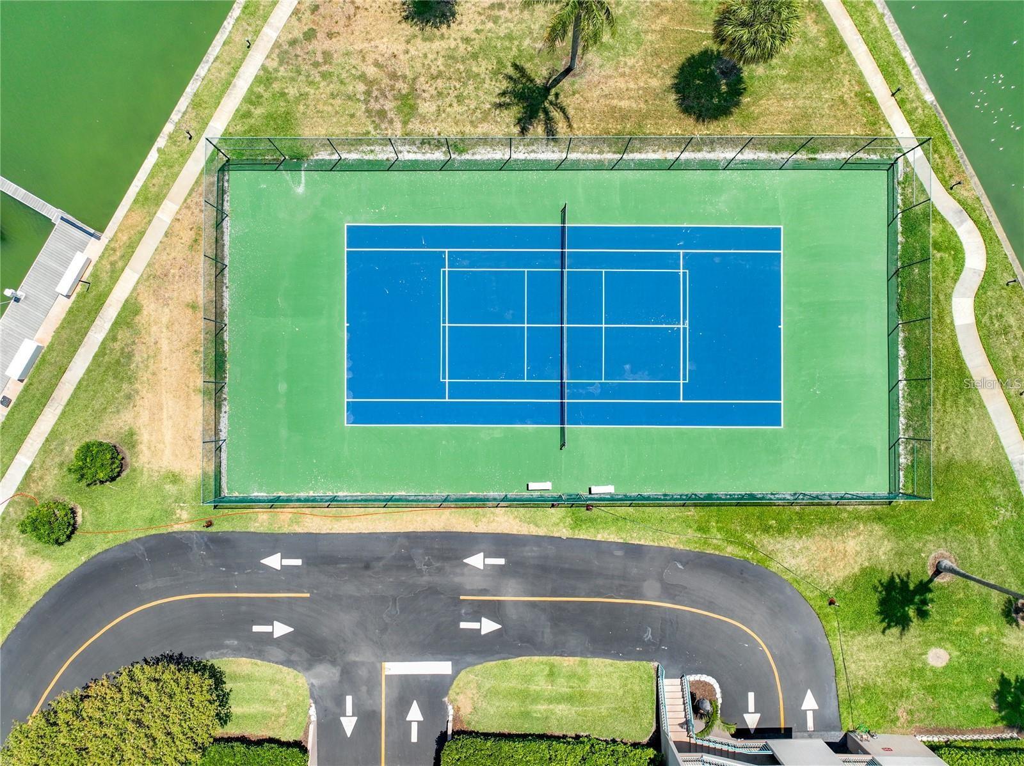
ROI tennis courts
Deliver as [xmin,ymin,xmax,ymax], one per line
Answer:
[226,157,899,494]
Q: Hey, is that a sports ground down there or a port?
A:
sports ground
